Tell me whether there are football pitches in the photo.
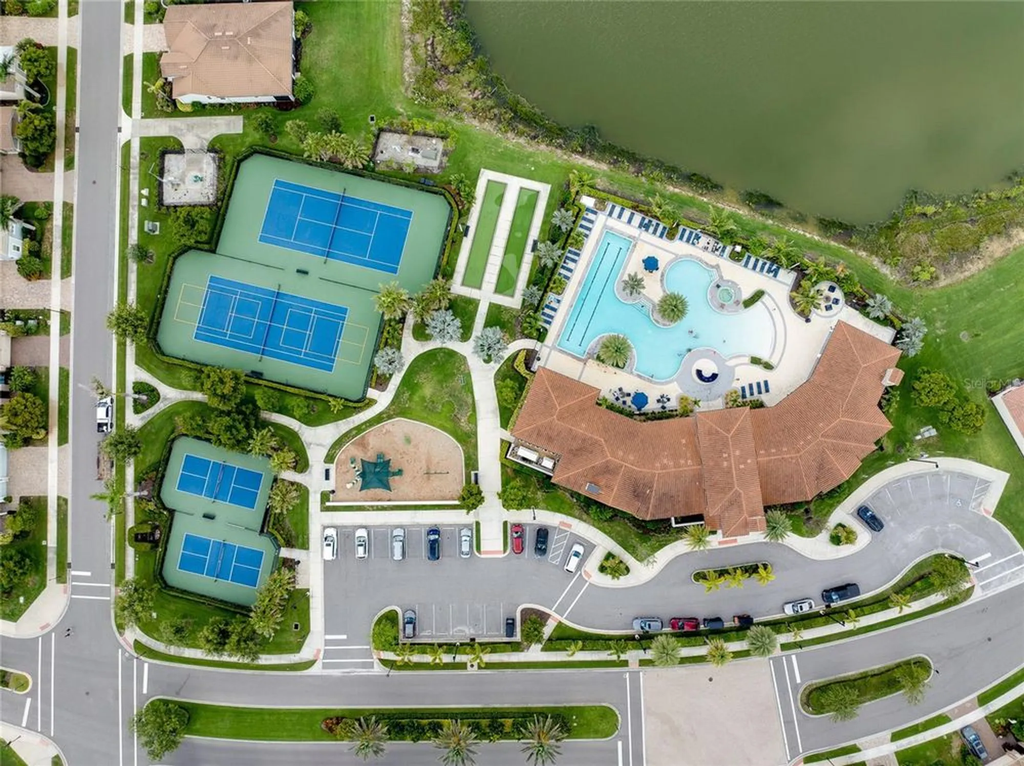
No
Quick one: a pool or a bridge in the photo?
pool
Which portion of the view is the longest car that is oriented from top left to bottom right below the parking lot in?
bottom right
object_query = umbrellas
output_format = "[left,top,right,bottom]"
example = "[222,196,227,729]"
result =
[642,256,658,272]
[631,393,647,409]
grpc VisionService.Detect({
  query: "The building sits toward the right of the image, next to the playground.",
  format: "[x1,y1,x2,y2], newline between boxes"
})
[512,319,909,542]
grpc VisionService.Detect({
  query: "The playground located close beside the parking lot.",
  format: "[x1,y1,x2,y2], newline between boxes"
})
[328,417,466,504]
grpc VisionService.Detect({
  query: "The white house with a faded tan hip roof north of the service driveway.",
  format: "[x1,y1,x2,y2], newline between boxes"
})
[160,0,297,104]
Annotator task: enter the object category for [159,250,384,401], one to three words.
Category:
tennis court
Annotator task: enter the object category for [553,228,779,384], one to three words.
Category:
swimming pool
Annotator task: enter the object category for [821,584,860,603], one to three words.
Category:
vehicle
